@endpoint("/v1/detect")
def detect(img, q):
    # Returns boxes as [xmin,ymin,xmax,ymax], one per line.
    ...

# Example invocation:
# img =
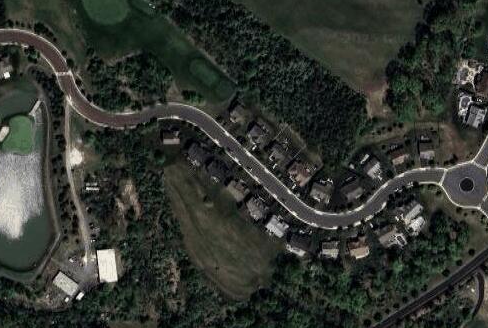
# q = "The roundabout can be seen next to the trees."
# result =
[443,161,488,208]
